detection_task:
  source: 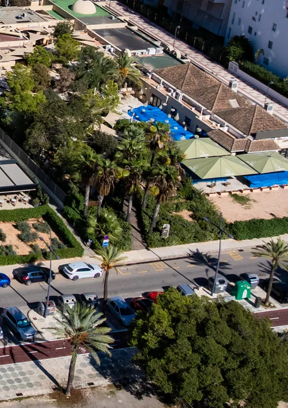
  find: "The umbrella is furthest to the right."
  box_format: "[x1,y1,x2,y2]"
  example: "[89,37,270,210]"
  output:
[236,151,288,175]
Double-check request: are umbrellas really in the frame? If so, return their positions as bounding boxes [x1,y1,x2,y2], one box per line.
[185,156,258,186]
[236,151,288,175]
[175,138,230,162]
